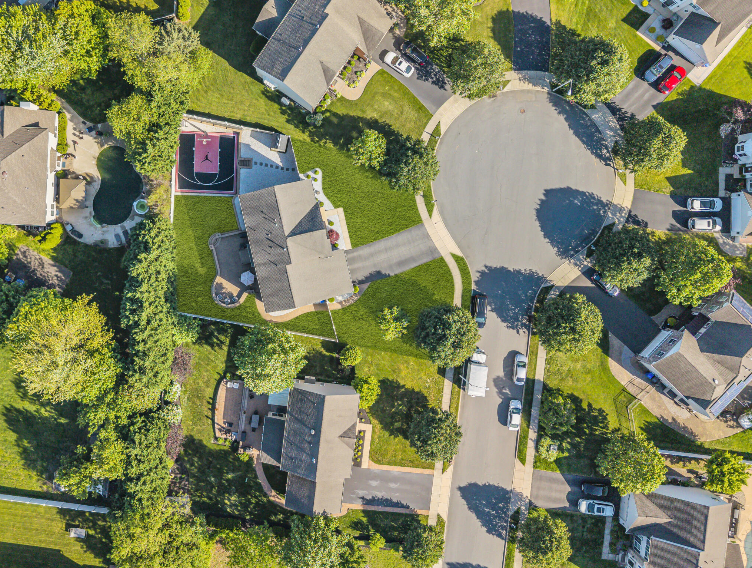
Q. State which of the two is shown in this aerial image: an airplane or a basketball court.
basketball court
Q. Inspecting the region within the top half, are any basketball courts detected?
Yes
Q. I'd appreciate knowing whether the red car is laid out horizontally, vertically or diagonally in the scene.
diagonally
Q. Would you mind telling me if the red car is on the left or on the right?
right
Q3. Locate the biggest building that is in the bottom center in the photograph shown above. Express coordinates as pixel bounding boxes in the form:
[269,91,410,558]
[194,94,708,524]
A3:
[259,375,360,516]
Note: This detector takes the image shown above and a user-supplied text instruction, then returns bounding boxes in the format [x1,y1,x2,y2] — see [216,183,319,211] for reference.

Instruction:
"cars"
[578,498,615,517]
[642,51,675,85]
[657,66,687,96]
[589,274,621,299]
[512,353,530,386]
[687,216,722,232]
[579,480,609,498]
[382,51,417,77]
[687,197,723,212]
[473,294,490,328]
[506,399,523,431]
